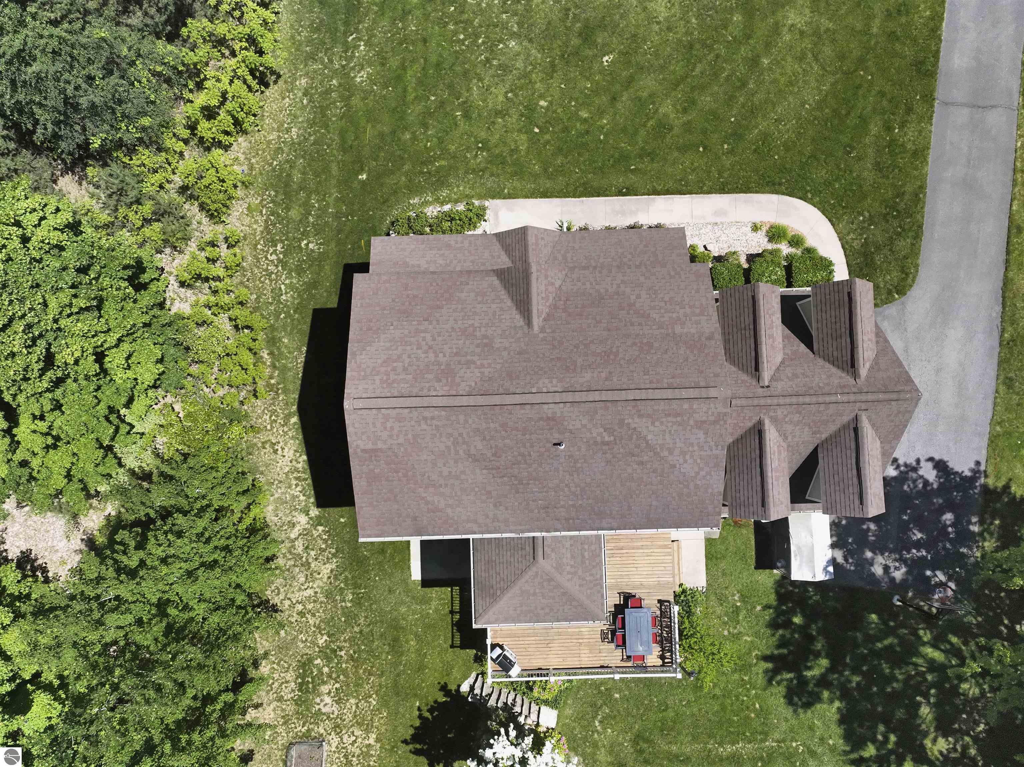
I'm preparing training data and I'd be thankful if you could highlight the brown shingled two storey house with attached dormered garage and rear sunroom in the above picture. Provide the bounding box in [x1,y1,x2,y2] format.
[345,219,922,629]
